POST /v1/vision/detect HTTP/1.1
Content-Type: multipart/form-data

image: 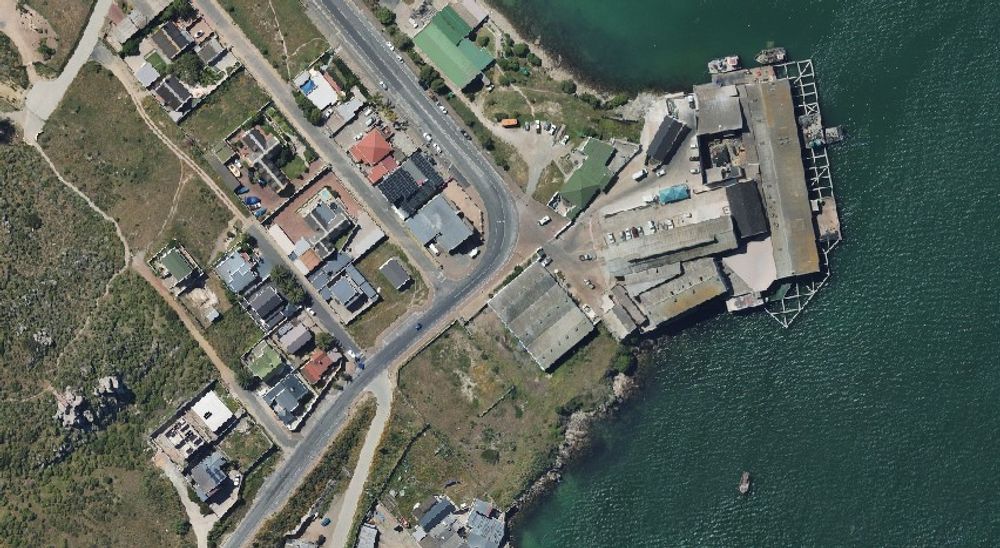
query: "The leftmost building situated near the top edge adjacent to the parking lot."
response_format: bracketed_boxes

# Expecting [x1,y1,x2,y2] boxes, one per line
[414,0,496,89]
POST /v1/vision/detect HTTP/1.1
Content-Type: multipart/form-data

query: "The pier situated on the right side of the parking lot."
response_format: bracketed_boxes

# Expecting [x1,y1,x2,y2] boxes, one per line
[640,60,841,331]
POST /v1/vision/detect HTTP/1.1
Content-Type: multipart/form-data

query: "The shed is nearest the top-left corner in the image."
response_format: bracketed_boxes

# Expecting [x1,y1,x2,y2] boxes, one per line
[107,10,146,43]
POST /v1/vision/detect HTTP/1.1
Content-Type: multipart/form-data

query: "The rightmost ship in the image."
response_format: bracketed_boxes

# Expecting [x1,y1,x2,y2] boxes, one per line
[825,128,843,141]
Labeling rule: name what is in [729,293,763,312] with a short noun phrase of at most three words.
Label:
boat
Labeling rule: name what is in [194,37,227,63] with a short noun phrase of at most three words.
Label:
house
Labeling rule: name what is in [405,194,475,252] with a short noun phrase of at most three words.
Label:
building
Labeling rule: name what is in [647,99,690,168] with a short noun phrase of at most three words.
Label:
shed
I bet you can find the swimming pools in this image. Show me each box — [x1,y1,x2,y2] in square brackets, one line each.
[300,79,315,95]
[320,189,331,201]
